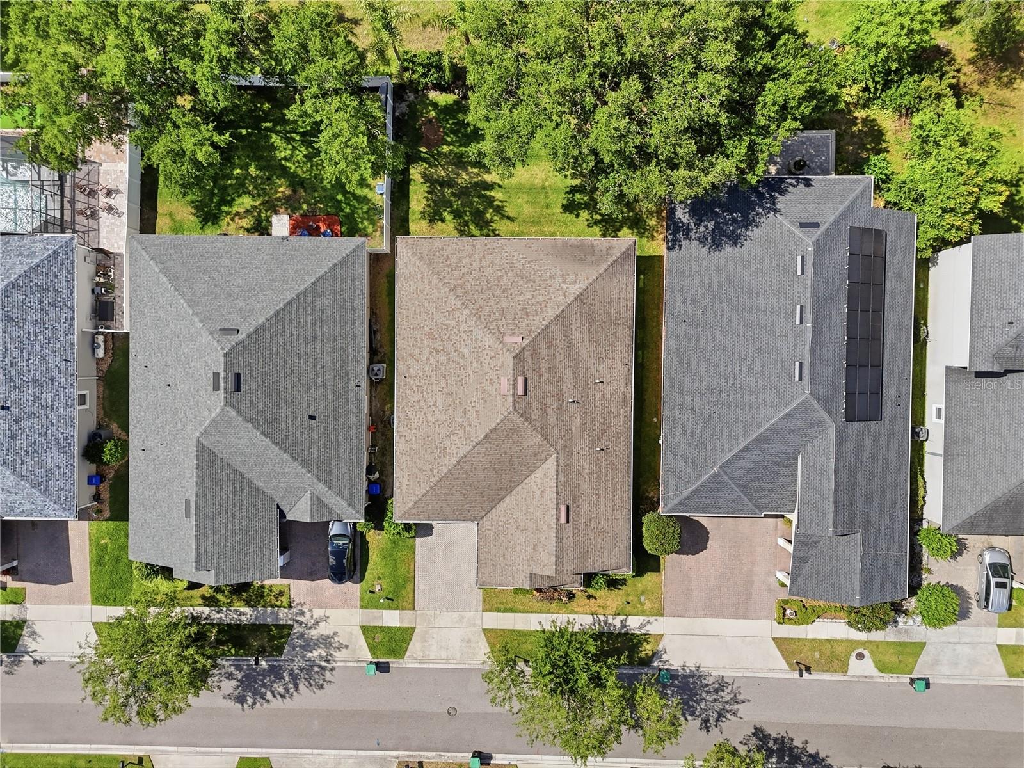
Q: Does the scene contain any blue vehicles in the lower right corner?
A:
No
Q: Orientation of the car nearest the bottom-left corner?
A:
up and down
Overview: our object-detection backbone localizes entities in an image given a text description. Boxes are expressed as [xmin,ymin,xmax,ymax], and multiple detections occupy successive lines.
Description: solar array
[843,226,887,420]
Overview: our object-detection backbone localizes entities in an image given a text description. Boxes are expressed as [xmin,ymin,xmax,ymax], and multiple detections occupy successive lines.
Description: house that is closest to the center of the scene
[393,236,638,591]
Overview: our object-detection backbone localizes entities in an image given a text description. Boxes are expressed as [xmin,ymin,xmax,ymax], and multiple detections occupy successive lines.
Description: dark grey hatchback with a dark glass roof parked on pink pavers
[325,521,357,584]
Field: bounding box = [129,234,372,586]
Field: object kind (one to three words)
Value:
house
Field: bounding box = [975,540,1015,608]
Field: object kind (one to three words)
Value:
car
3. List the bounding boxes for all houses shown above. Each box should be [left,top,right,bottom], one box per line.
[129,234,372,586]
[922,232,1024,536]
[393,236,638,591]
[0,232,101,574]
[659,175,918,607]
